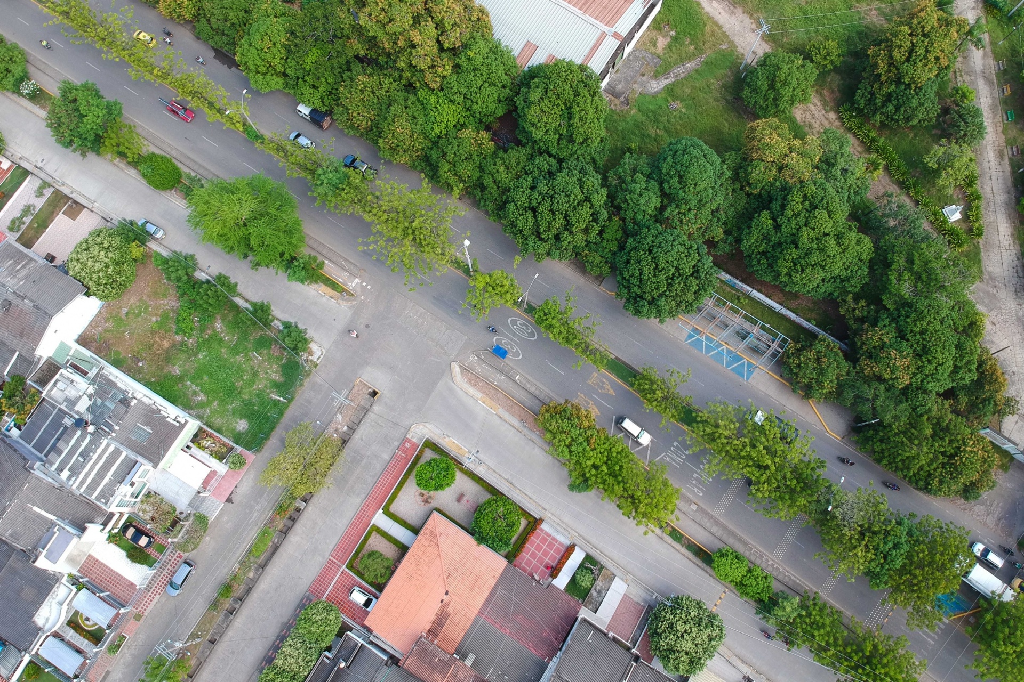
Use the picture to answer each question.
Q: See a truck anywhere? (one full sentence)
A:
Yes, there's a truck down there.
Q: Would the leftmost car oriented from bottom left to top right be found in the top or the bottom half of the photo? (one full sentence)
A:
It is in the bottom half that the leftmost car oriented from bottom left to top right appears.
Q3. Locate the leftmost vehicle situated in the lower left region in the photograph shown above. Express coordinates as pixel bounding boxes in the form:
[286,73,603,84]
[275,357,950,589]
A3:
[123,523,154,548]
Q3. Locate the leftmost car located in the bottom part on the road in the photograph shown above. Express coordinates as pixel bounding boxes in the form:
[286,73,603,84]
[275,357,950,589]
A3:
[168,560,198,597]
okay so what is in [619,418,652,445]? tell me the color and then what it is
white car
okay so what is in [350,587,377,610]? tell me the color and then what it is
white car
